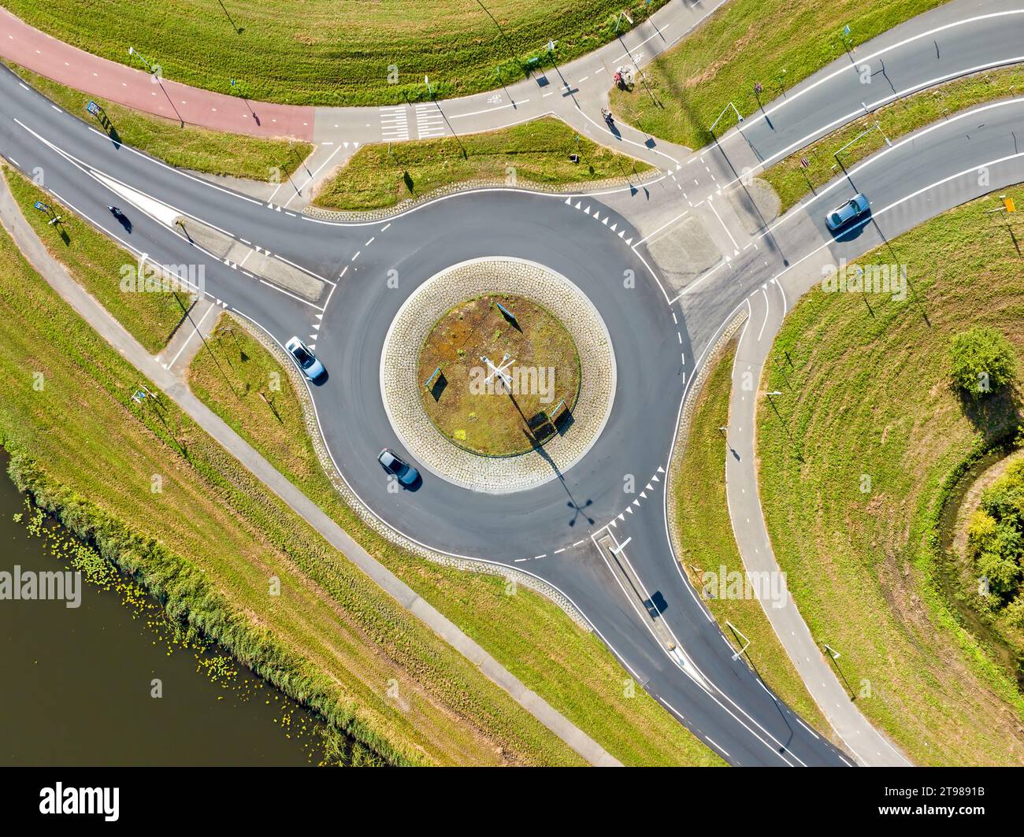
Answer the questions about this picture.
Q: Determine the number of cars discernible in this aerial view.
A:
3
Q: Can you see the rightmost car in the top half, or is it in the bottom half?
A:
top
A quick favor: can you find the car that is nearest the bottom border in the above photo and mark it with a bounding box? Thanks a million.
[377,446,421,489]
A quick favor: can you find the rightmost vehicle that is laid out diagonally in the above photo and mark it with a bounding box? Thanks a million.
[823,192,872,230]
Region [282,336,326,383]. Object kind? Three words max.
car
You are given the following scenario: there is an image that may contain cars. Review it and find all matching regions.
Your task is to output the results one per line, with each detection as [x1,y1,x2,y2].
[823,192,872,230]
[282,336,326,383]
[377,446,421,489]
